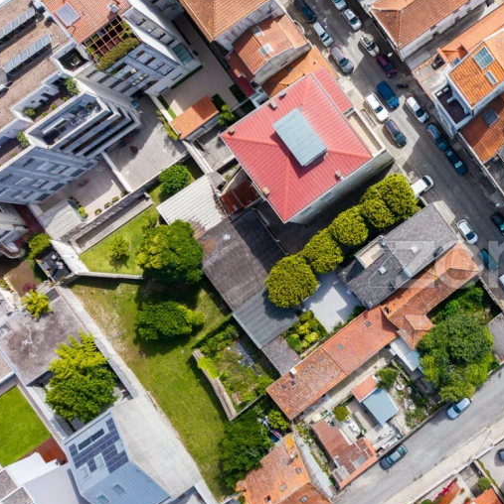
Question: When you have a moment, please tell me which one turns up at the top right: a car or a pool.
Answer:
car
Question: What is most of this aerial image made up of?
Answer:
buildings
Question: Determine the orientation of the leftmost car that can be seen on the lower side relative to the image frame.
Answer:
on a diagonal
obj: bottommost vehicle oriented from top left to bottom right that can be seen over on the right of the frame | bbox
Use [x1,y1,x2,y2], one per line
[476,244,502,276]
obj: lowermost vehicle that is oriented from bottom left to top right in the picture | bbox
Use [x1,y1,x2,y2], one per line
[379,443,409,471]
